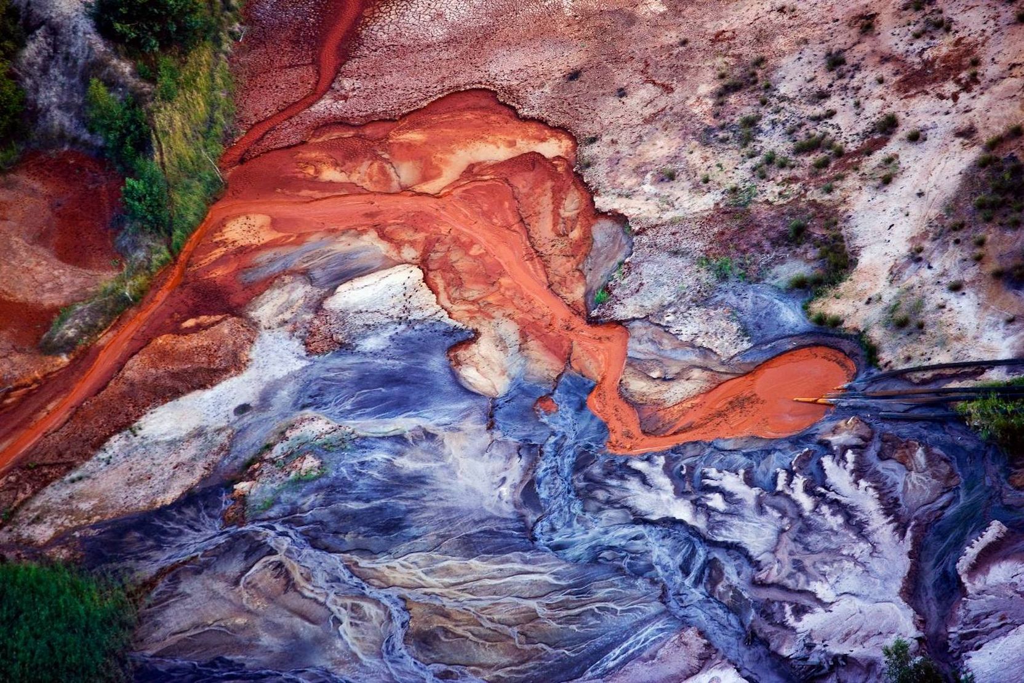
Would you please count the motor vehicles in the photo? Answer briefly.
0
